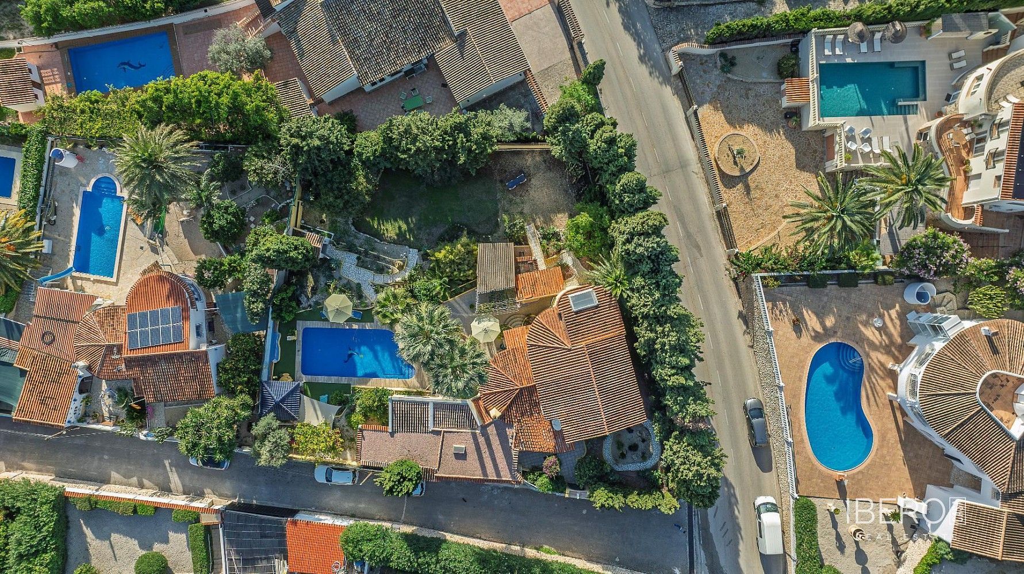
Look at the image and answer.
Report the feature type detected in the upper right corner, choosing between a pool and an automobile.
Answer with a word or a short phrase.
pool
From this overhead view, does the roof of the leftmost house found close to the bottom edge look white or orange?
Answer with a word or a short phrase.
orange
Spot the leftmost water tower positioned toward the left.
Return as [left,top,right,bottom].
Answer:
[49,148,80,167]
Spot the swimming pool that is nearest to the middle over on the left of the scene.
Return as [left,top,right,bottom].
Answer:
[300,326,415,381]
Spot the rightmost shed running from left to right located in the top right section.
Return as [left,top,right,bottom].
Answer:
[922,10,1017,43]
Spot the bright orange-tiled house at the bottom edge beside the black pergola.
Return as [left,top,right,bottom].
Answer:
[285,504,356,574]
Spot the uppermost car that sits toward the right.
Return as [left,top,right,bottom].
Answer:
[742,398,769,449]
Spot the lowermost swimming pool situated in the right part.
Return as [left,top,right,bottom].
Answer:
[800,337,878,476]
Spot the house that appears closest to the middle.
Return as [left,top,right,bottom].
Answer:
[513,246,563,301]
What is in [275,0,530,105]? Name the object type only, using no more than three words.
house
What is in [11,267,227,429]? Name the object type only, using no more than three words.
house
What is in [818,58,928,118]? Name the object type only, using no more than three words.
swimming pool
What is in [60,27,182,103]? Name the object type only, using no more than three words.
swimming pool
